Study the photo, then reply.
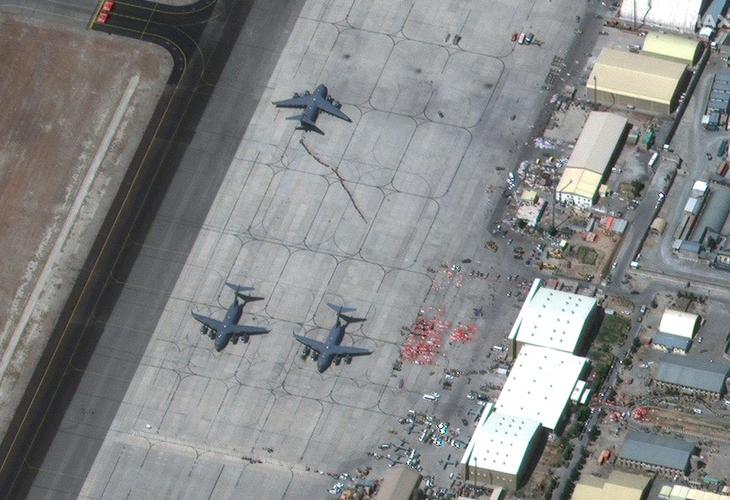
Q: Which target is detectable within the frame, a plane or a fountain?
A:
plane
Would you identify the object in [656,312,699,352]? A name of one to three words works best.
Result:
building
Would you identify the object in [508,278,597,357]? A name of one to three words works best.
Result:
hangar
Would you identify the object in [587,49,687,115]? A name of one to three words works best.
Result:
hangar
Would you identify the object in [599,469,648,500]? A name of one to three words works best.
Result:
building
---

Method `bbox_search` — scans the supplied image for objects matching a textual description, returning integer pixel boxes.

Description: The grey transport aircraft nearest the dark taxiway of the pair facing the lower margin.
[192,280,272,352]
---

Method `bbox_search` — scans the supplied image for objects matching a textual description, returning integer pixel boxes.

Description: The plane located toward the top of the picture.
[270,83,349,128]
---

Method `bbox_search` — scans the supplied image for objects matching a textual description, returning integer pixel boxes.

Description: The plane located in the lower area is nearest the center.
[294,302,373,373]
